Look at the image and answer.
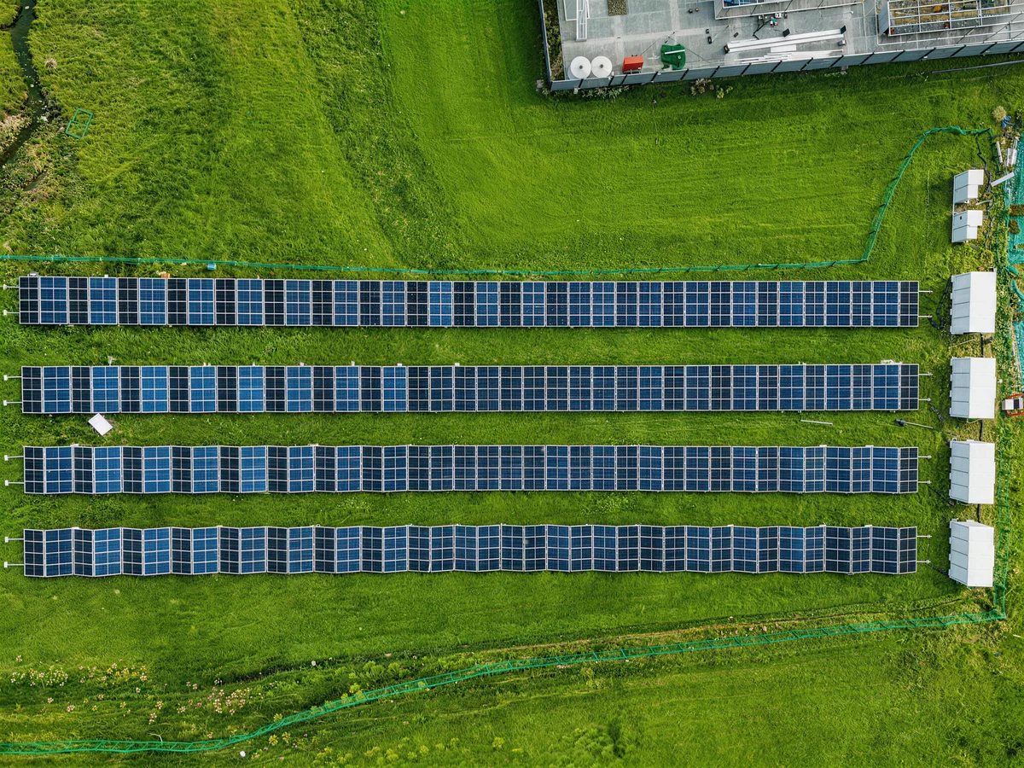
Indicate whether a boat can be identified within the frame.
No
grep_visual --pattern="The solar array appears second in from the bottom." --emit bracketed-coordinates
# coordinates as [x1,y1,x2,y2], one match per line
[5,443,931,494]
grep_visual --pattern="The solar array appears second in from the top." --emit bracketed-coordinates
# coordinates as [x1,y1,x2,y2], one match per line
[4,362,931,414]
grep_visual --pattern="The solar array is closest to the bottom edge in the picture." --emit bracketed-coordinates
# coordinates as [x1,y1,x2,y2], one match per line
[5,522,931,578]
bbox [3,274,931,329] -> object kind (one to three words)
solar array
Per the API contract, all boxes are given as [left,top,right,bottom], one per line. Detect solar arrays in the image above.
[3,274,931,329]
[4,362,931,414]
[5,443,931,494]
[5,522,931,578]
